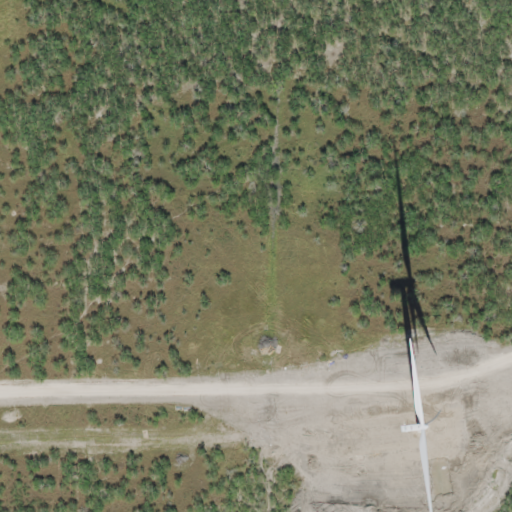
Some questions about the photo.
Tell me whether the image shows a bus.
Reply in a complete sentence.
No, there's no bus here.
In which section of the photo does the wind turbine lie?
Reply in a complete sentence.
You can find the wind turbine in the bottom right area of the picture.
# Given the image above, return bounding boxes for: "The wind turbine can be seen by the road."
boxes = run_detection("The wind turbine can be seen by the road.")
[401,345,442,512]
